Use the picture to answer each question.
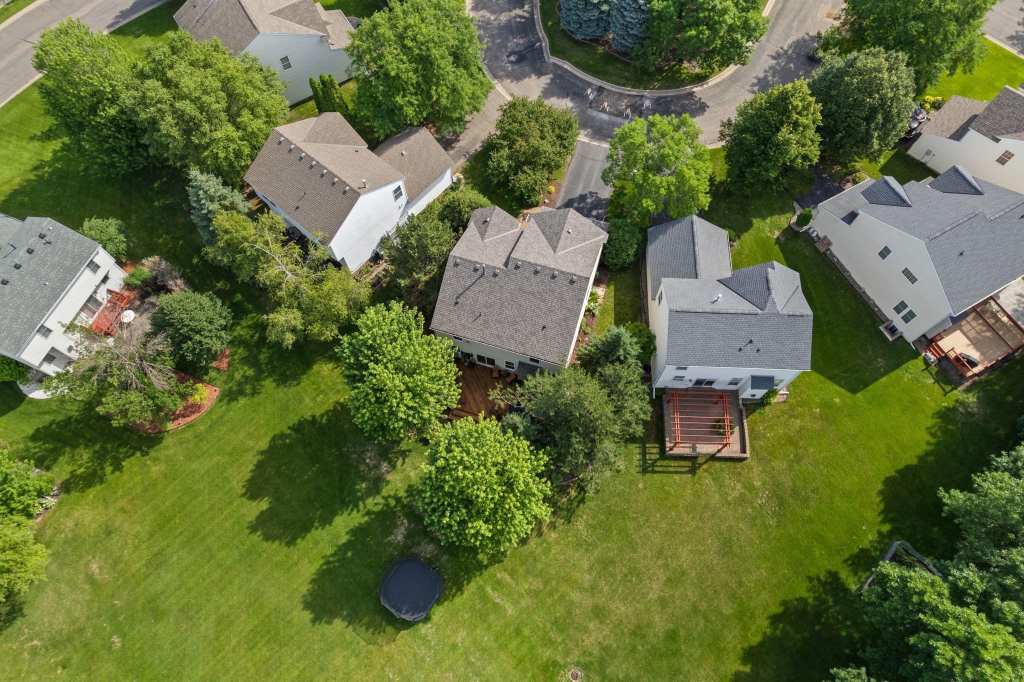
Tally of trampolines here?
1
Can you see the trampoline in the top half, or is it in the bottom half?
bottom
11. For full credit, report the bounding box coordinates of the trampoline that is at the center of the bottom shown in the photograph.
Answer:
[375,555,445,625]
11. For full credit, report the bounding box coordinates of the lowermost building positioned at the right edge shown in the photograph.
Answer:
[803,159,1024,353]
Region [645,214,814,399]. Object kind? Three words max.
house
